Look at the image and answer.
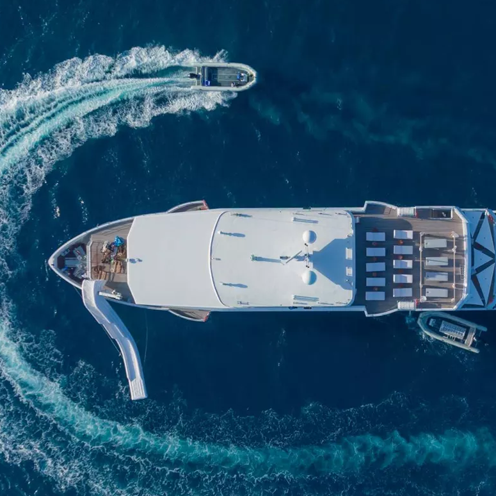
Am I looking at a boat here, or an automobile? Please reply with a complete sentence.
Looking from above, you can make out a boat.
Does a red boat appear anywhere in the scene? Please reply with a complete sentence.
No, no red boat is visible in the scene.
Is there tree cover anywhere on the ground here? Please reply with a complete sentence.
No, the scene doesn't show any tree cover.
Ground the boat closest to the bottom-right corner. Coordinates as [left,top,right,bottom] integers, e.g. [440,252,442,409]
[418,312,488,353]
